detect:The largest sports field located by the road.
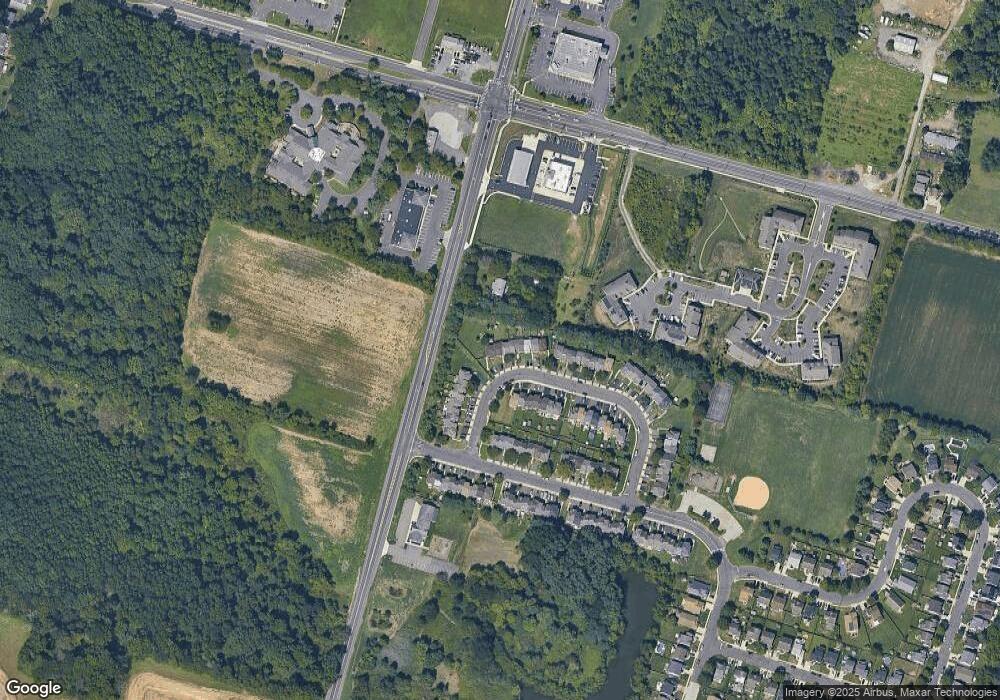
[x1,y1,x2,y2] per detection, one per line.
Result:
[717,387,881,535]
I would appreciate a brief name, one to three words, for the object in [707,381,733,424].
tennis court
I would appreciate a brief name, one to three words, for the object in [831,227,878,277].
building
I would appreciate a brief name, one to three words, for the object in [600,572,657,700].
pond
